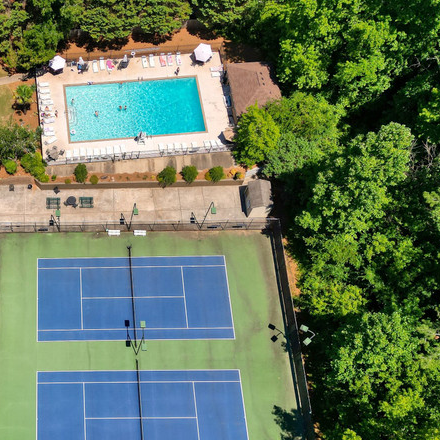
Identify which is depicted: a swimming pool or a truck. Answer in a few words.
swimming pool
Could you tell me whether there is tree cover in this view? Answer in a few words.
Yes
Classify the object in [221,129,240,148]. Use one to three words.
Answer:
umbrella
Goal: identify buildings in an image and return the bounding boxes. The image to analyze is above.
[226,63,288,131]
[244,173,279,216]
